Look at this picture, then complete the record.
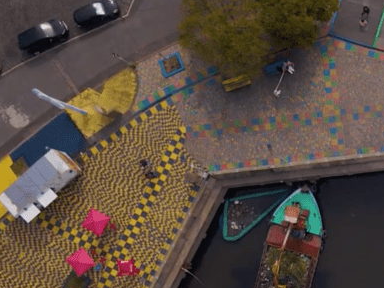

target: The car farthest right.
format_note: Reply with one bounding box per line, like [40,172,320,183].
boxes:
[72,0,123,29]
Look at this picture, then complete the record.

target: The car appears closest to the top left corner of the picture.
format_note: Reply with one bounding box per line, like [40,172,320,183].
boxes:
[14,19,71,55]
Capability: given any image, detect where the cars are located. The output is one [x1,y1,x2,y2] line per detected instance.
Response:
[14,19,71,55]
[72,0,123,29]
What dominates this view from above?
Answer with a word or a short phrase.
paved ground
